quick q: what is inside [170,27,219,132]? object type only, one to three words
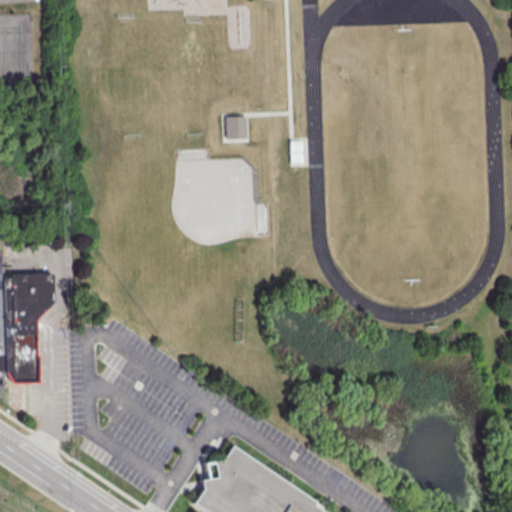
soccer field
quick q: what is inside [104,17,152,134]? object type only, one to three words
soccer field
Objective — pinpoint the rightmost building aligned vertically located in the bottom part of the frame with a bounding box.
[6,272,54,382]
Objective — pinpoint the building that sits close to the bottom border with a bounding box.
[197,446,330,512]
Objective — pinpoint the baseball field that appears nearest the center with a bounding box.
[173,157,258,245]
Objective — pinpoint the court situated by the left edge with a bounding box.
[0,14,32,78]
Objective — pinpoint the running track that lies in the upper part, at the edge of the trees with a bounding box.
[303,0,504,324]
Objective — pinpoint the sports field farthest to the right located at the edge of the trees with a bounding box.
[323,24,489,309]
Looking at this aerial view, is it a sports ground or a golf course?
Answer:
sports ground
